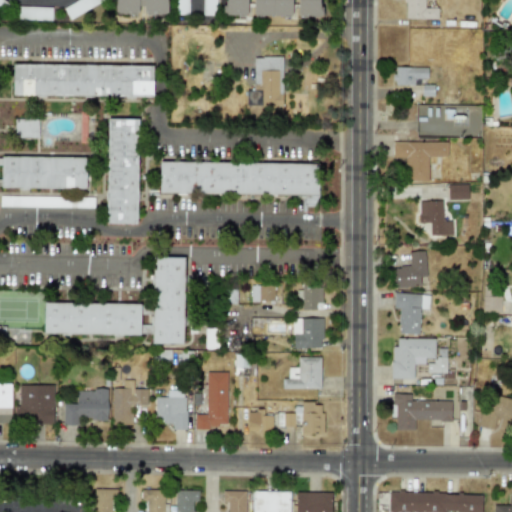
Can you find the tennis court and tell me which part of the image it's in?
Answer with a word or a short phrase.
left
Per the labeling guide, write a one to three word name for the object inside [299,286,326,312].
house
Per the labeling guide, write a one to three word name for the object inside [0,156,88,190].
building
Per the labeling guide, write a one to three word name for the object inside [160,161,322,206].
building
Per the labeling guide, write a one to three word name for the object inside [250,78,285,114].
house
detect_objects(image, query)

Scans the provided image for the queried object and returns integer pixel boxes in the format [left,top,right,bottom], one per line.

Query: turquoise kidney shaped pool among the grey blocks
[46,118,78,136]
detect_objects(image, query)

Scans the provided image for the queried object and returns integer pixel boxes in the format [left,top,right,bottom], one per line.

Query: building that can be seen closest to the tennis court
[45,302,143,336]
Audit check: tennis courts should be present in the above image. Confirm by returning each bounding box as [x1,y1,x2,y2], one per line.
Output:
[0,291,45,328]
